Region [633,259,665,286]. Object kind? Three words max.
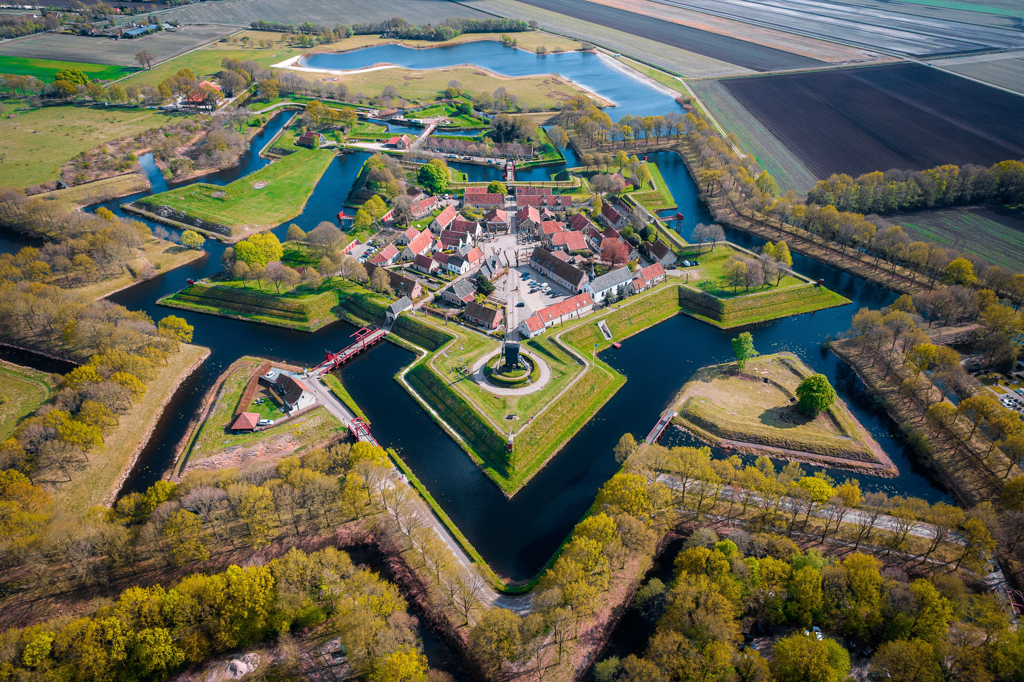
house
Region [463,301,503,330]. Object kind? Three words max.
house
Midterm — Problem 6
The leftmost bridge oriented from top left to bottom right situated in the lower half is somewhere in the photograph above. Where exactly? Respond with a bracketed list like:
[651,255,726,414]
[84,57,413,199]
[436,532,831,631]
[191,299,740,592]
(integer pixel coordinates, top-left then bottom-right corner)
[344,410,391,455]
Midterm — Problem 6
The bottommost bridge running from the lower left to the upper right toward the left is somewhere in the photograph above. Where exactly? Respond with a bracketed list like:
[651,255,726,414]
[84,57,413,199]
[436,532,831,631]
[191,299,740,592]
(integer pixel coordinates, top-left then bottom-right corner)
[311,325,389,374]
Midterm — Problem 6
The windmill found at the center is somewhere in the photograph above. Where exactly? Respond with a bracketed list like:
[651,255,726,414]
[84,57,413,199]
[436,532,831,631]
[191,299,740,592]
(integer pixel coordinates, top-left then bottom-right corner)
[498,319,542,376]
